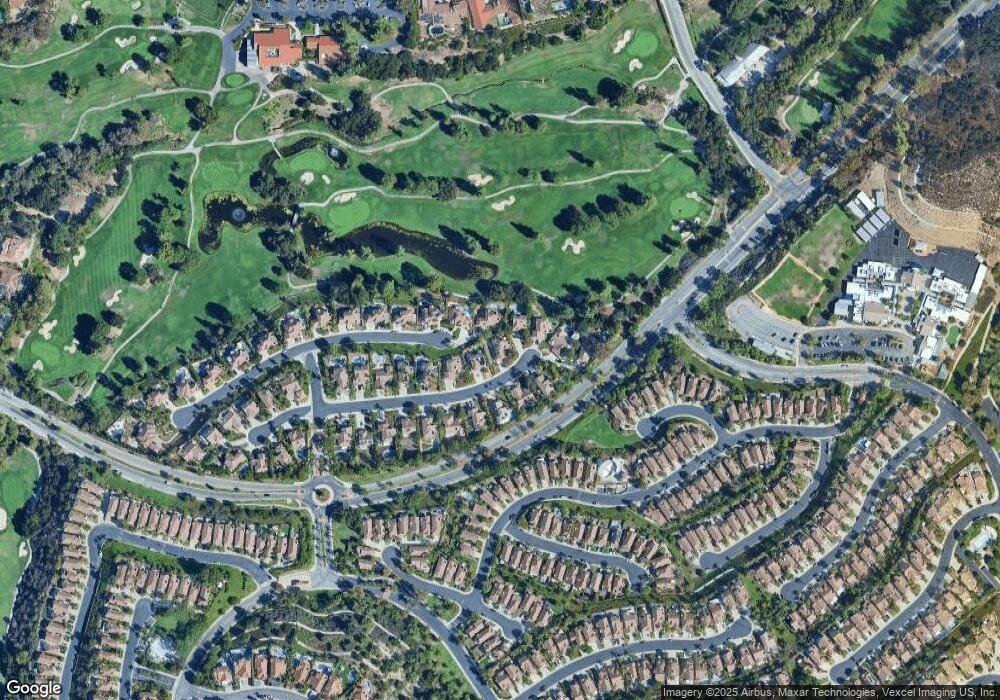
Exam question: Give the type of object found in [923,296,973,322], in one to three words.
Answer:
building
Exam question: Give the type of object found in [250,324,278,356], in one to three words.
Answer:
house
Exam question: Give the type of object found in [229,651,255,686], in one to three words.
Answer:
house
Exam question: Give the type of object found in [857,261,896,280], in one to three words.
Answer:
building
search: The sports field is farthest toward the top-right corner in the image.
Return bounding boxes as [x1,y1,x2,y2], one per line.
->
[791,205,863,285]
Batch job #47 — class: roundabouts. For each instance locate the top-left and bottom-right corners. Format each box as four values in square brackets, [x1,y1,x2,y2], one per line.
[302,474,344,515]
